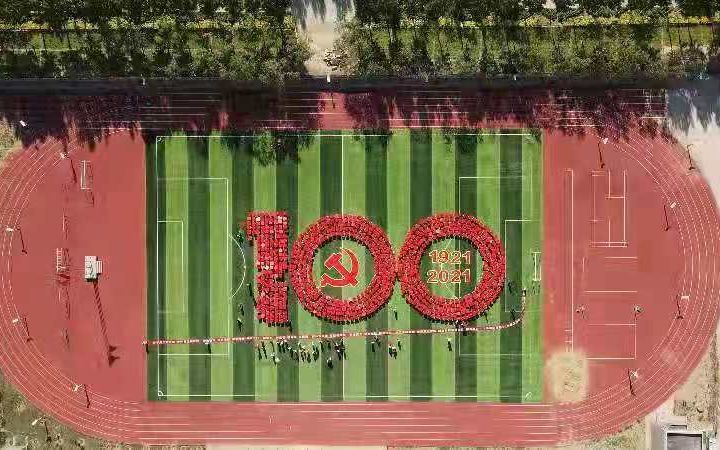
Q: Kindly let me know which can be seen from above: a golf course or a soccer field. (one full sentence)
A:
Of the two, only a soccer field appears.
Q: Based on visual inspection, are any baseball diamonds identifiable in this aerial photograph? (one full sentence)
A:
No, there's no baseball diamond here.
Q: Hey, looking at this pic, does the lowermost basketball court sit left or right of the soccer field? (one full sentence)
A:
Compared with the soccer field, the lowermost basketball court is located further to the right.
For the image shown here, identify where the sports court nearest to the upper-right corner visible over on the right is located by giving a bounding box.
[589,169,629,248]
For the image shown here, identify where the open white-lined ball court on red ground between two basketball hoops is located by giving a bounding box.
[581,254,640,361]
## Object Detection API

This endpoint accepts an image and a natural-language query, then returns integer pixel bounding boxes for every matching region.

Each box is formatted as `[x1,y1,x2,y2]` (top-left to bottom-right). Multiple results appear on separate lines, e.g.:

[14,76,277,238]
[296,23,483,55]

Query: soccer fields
[144,130,545,402]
